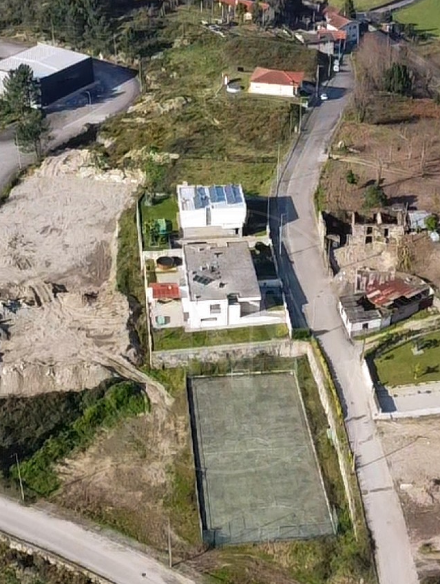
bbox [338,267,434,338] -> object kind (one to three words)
barn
